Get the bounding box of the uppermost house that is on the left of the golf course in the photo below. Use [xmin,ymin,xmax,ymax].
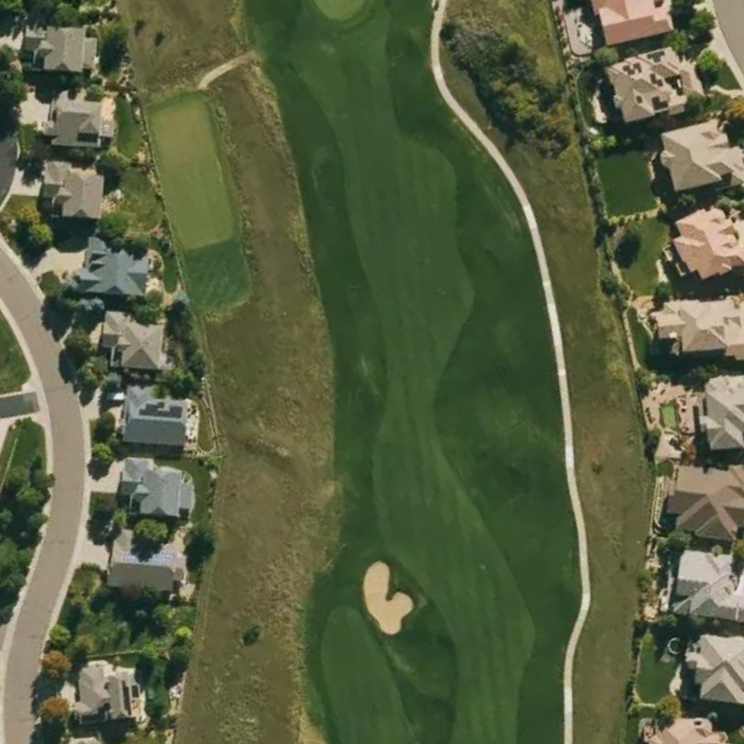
[24,26,96,71]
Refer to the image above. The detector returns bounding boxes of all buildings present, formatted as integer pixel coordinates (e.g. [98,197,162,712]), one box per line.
[43,90,102,146]
[593,0,675,44]
[690,636,744,708]
[71,233,150,299]
[654,298,744,360]
[24,26,96,71]
[106,529,187,592]
[662,118,744,190]
[700,374,744,451]
[121,384,186,445]
[120,457,195,517]
[649,718,726,744]
[102,311,163,370]
[74,662,137,720]
[668,464,744,538]
[671,550,744,624]
[676,205,744,282]
[608,48,706,123]
[43,161,104,218]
